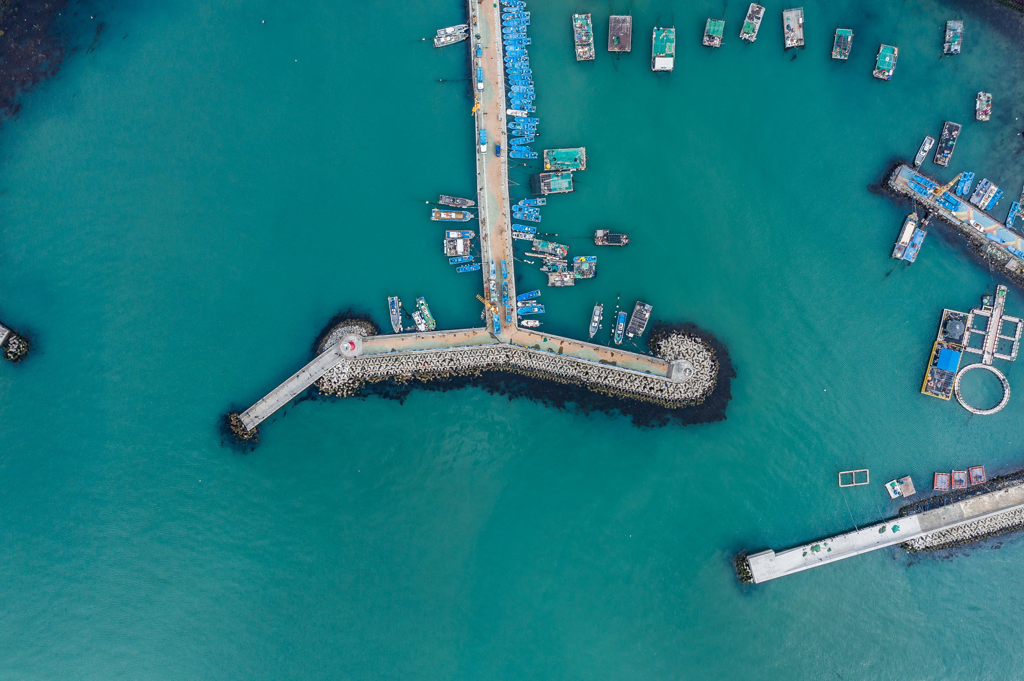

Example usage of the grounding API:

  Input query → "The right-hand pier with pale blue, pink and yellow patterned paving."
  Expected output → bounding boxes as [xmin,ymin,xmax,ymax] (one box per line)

[892,165,1024,265]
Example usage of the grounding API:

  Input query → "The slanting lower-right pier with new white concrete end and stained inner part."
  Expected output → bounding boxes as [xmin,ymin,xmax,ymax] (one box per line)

[746,483,1024,583]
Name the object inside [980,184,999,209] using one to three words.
boat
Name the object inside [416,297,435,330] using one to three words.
boat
